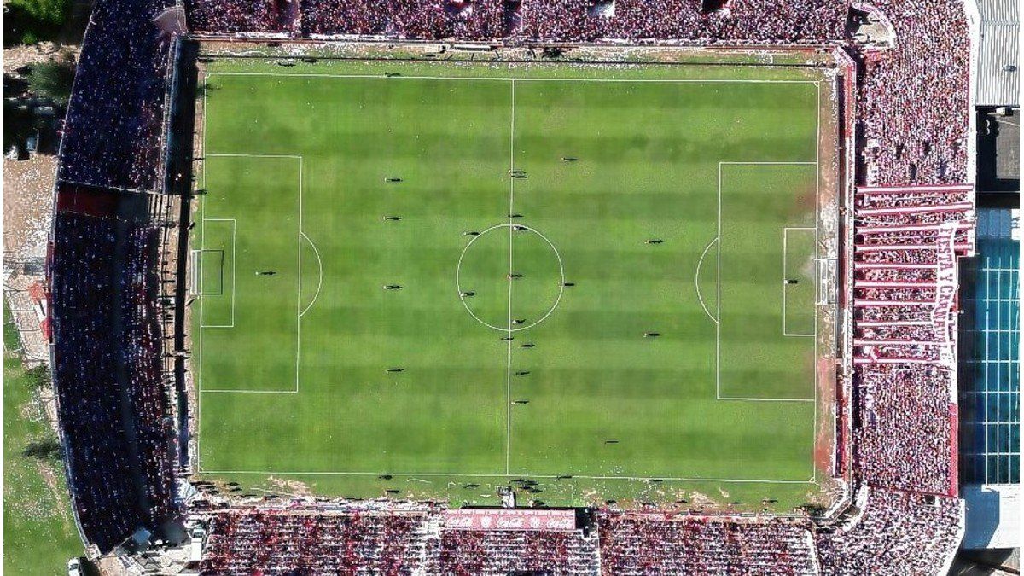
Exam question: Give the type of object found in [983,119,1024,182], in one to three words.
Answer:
building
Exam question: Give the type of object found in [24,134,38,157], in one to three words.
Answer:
car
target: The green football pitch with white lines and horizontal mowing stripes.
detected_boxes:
[198,73,819,483]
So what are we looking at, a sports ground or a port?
sports ground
